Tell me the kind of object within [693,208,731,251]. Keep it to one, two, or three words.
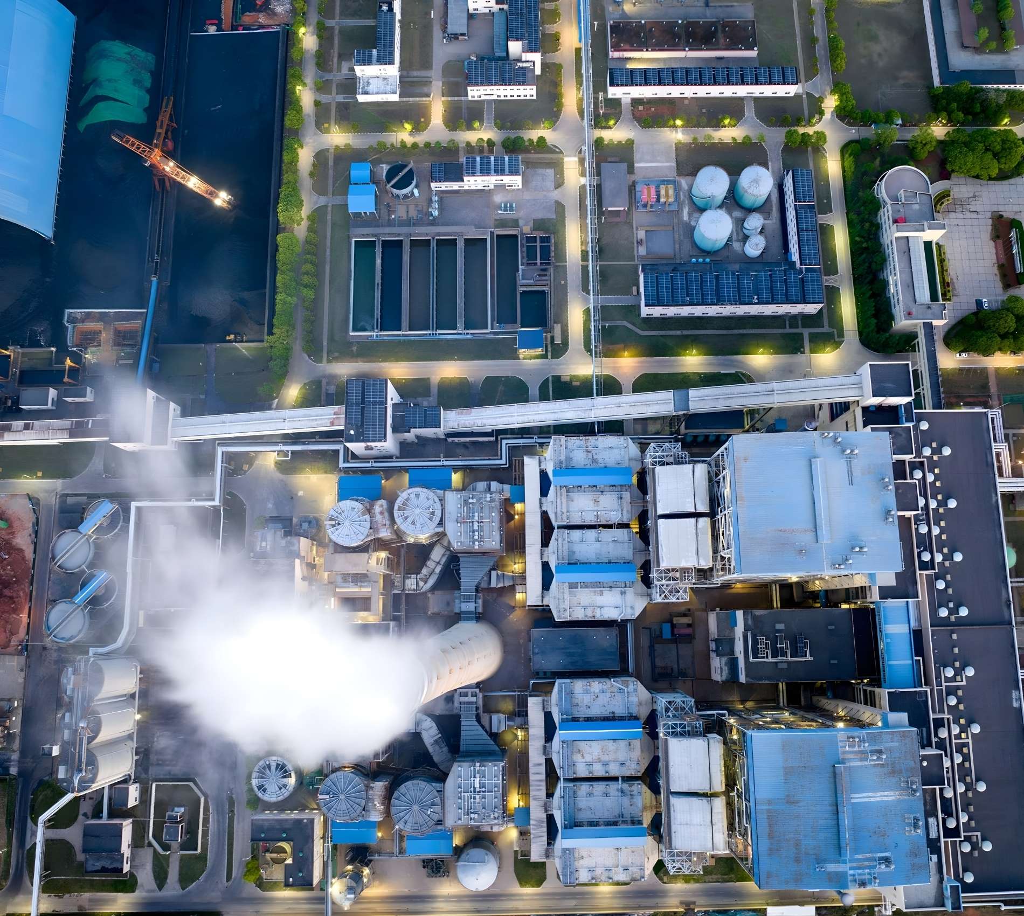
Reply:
storage tank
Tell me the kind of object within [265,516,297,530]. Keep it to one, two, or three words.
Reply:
shed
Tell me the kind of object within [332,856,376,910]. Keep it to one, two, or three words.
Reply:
silo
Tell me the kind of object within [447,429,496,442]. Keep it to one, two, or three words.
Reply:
building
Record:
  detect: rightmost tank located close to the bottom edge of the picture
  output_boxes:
[455,835,502,895]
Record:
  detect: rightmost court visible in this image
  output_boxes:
[1002,393,1024,426]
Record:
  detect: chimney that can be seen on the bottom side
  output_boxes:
[359,621,504,714]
